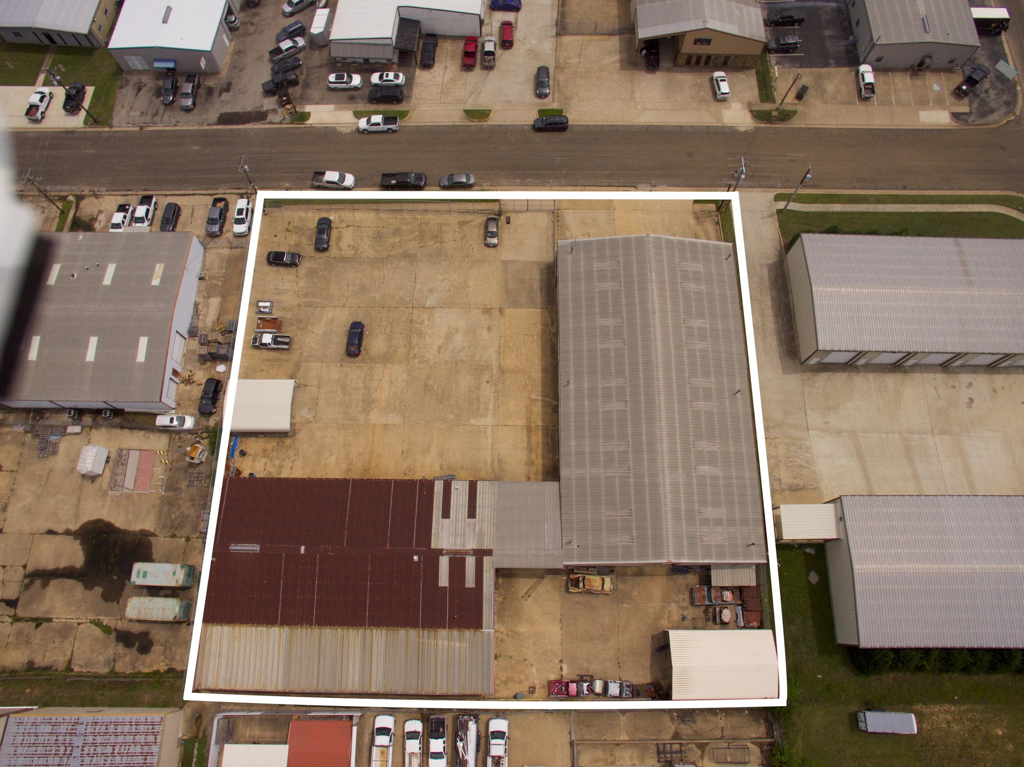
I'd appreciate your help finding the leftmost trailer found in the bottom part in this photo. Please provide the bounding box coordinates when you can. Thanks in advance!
[78,441,112,484]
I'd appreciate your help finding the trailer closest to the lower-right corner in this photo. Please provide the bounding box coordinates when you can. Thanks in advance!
[854,706,918,736]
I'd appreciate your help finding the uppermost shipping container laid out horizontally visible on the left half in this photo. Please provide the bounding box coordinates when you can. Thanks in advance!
[128,562,198,590]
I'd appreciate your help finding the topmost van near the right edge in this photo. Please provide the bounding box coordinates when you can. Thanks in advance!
[971,6,1016,36]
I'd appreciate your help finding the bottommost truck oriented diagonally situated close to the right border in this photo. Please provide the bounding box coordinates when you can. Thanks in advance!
[954,66,989,97]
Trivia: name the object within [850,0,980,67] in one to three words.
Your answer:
building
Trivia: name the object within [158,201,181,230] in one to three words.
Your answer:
car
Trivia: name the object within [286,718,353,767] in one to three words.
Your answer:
shed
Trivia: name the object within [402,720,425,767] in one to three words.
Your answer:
truck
